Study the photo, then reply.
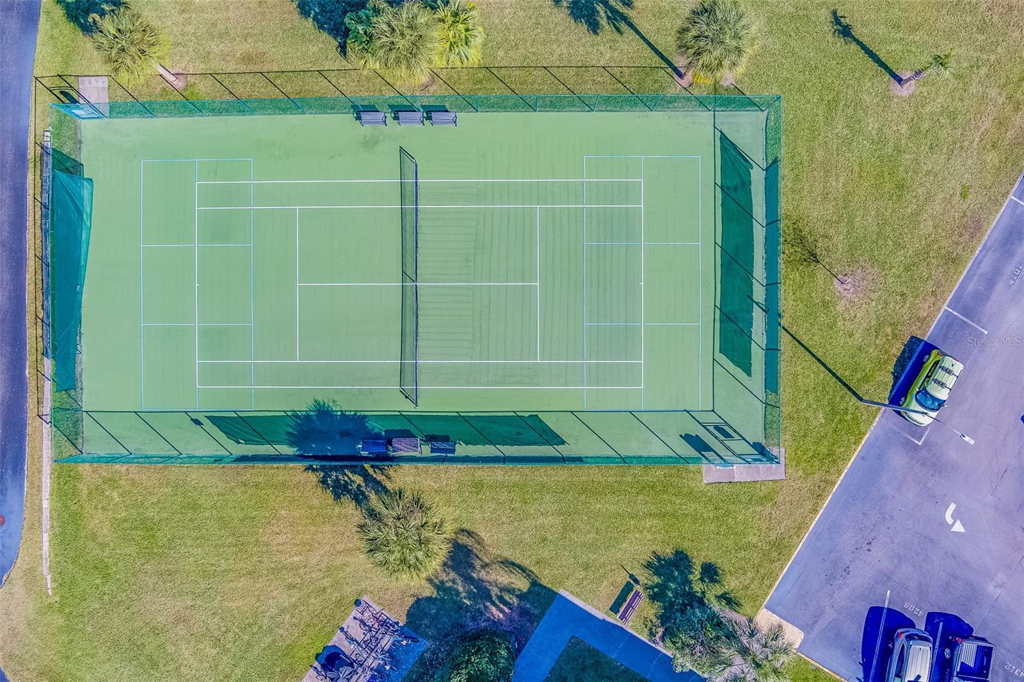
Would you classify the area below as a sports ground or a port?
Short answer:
sports ground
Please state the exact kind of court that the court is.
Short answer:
tennis court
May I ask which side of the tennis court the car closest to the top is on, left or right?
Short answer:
right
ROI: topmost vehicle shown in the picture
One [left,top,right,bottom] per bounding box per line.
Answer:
[899,346,968,429]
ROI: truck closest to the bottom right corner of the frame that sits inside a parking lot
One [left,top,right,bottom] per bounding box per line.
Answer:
[945,633,998,682]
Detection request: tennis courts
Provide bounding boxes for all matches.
[81,110,767,456]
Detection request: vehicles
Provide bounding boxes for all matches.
[899,346,968,429]
[883,627,937,682]
[945,633,998,682]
